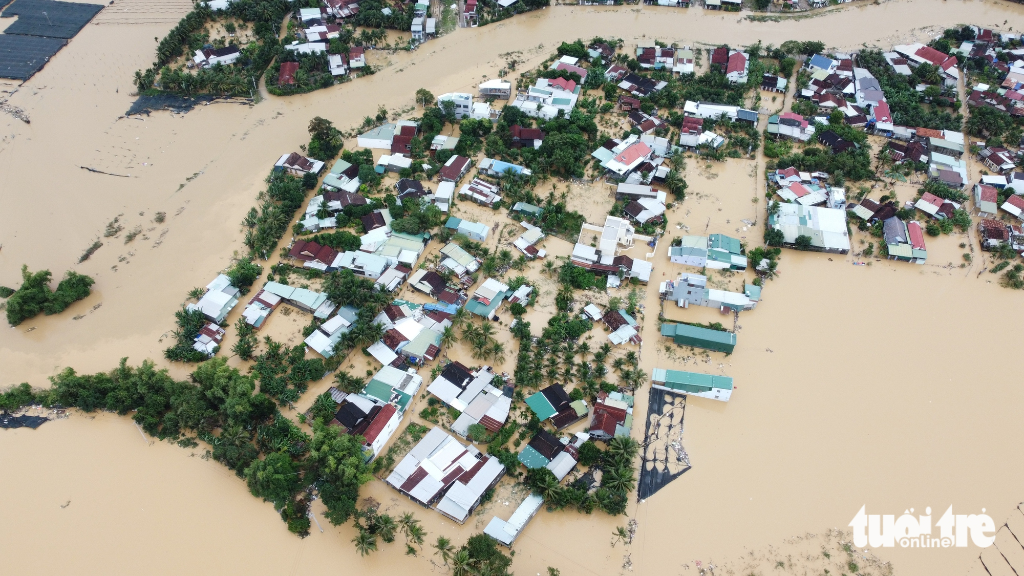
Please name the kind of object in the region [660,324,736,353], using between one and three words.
building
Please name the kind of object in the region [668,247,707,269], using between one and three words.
house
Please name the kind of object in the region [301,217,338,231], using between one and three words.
shed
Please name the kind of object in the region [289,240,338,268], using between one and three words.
house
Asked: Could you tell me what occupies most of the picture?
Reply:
water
